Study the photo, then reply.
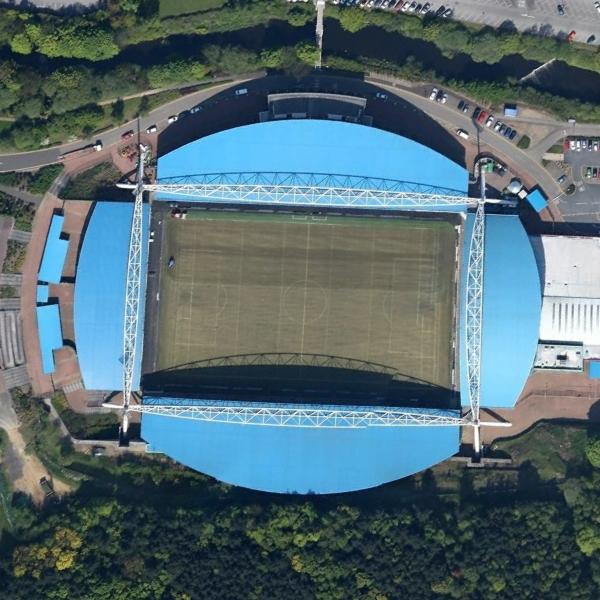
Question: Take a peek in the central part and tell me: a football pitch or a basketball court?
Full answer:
Looking in the central part, you will find a football pitch.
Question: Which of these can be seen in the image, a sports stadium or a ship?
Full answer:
This aerial view contains a sports stadium.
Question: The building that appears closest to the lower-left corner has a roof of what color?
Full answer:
The roof over the building that appears closest to the lower-left corner appears blue.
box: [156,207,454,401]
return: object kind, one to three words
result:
soccer field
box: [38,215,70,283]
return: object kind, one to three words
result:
building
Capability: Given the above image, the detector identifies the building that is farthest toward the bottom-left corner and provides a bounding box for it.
[36,304,63,374]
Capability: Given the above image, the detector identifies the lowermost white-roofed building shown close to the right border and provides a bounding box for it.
[533,235,600,371]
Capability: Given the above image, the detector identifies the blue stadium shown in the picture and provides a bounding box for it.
[73,119,543,495]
